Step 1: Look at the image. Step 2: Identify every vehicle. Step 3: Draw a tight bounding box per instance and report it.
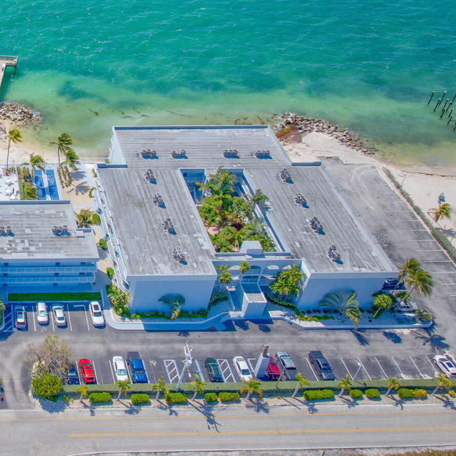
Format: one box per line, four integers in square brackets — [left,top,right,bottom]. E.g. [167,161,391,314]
[232,354,253,383]
[13,306,28,329]
[52,304,66,328]
[78,358,96,385]
[203,357,225,384]
[111,355,129,383]
[273,351,298,383]
[391,300,423,312]
[89,301,104,327]
[268,355,285,382]
[64,361,81,386]
[127,351,148,385]
[431,353,456,380]
[35,300,50,325]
